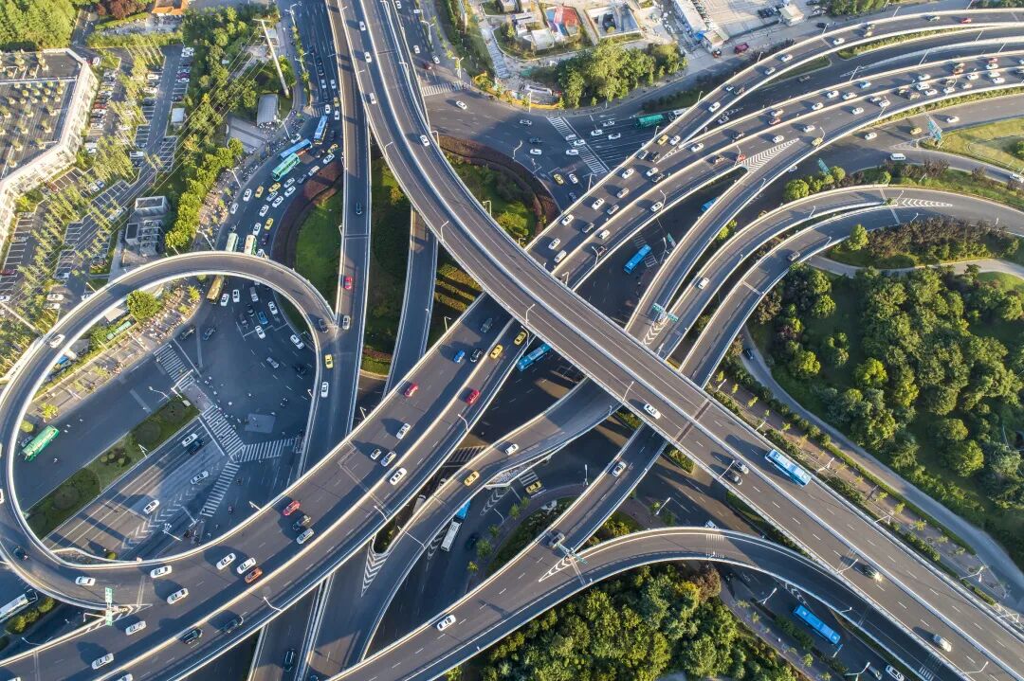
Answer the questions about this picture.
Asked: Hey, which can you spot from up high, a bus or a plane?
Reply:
bus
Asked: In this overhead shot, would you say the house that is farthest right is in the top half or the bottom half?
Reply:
top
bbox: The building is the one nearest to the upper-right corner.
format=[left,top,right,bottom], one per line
[776,4,803,31]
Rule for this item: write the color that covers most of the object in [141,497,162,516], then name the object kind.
white car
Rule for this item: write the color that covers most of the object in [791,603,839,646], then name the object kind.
blue bus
